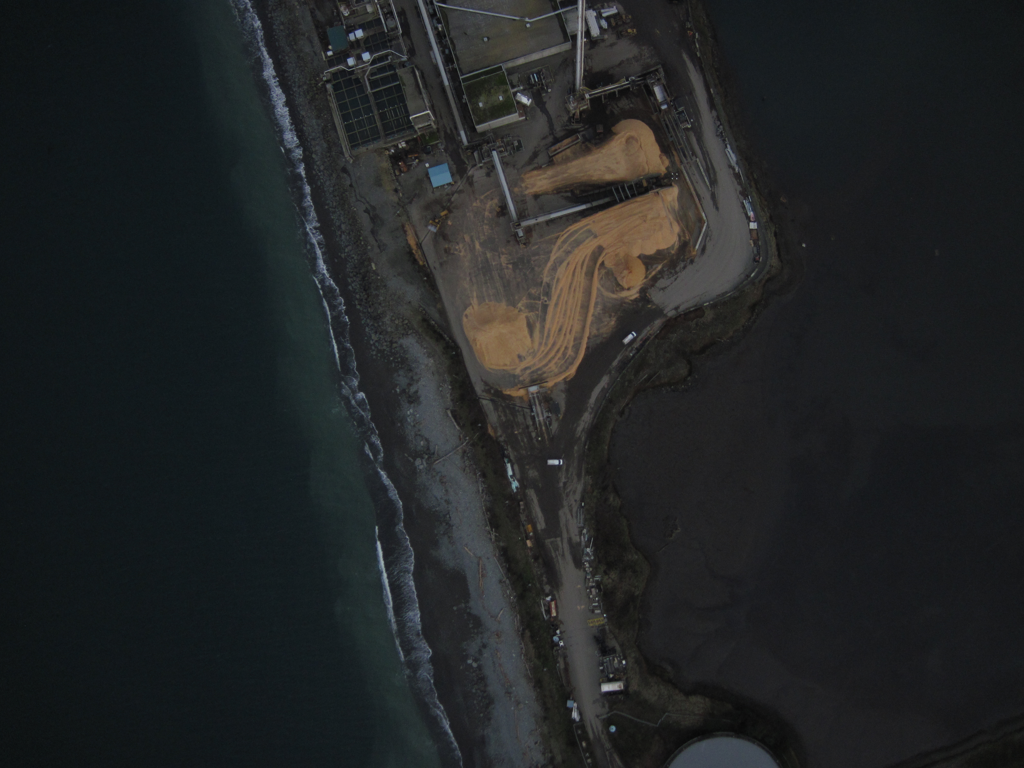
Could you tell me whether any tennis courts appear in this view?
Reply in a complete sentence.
No, there is no tennis court in the image.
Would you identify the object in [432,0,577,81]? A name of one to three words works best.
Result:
building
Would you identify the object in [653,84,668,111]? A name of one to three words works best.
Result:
vehicle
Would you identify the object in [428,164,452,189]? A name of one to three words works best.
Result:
shed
